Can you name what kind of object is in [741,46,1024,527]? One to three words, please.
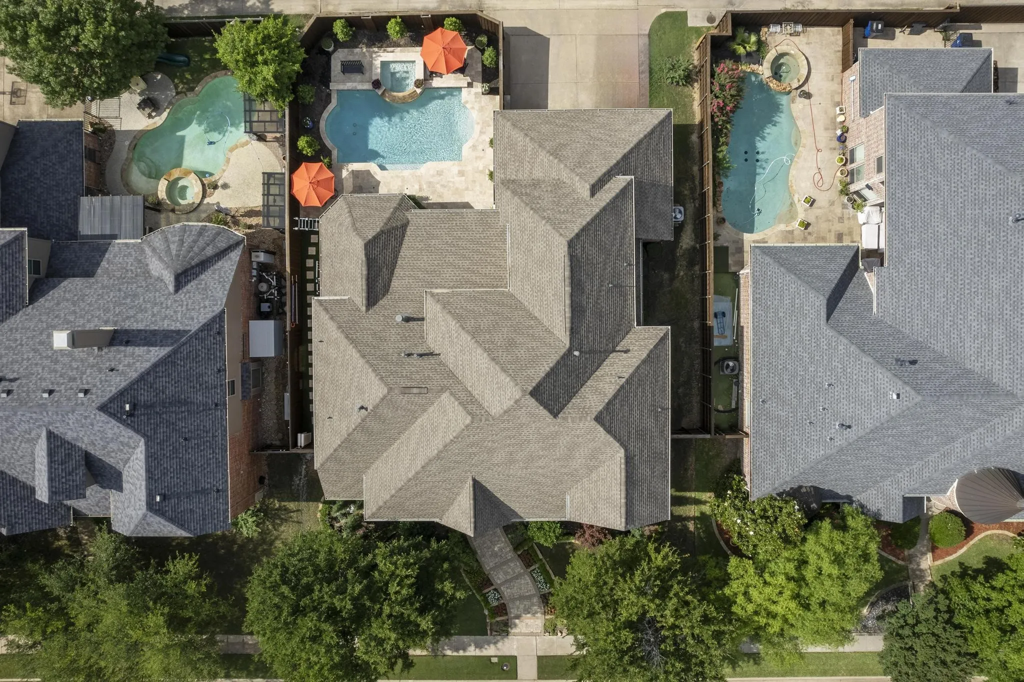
house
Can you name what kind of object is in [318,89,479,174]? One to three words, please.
swimming pool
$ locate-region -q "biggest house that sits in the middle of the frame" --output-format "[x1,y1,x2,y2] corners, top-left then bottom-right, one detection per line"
[310,106,676,537]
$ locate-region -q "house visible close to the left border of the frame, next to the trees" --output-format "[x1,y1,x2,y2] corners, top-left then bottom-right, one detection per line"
[0,118,272,538]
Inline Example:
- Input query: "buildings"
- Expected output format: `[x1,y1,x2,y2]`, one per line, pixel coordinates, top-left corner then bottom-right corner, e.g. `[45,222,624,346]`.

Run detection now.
[741,46,1024,527]
[0,118,272,538]
[310,106,676,537]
